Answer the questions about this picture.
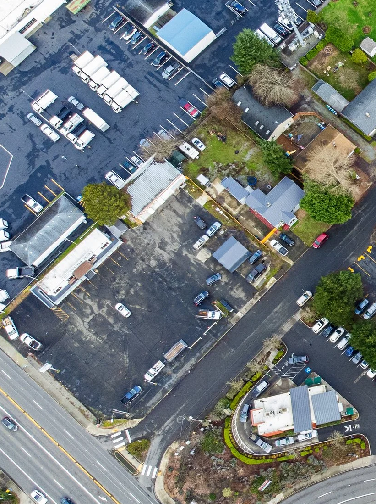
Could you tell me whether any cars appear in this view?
Yes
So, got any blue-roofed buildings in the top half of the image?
Yes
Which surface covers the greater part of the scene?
paved ground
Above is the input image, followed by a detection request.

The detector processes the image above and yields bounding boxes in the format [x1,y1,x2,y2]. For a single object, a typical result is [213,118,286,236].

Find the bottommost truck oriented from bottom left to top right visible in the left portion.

[121,385,142,407]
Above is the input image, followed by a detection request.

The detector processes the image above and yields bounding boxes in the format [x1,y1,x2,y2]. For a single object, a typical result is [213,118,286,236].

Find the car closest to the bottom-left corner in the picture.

[30,488,48,504]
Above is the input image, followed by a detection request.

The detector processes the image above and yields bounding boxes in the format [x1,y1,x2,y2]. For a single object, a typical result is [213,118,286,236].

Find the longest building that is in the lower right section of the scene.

[251,385,346,438]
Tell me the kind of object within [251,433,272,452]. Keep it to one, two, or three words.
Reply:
vehicle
